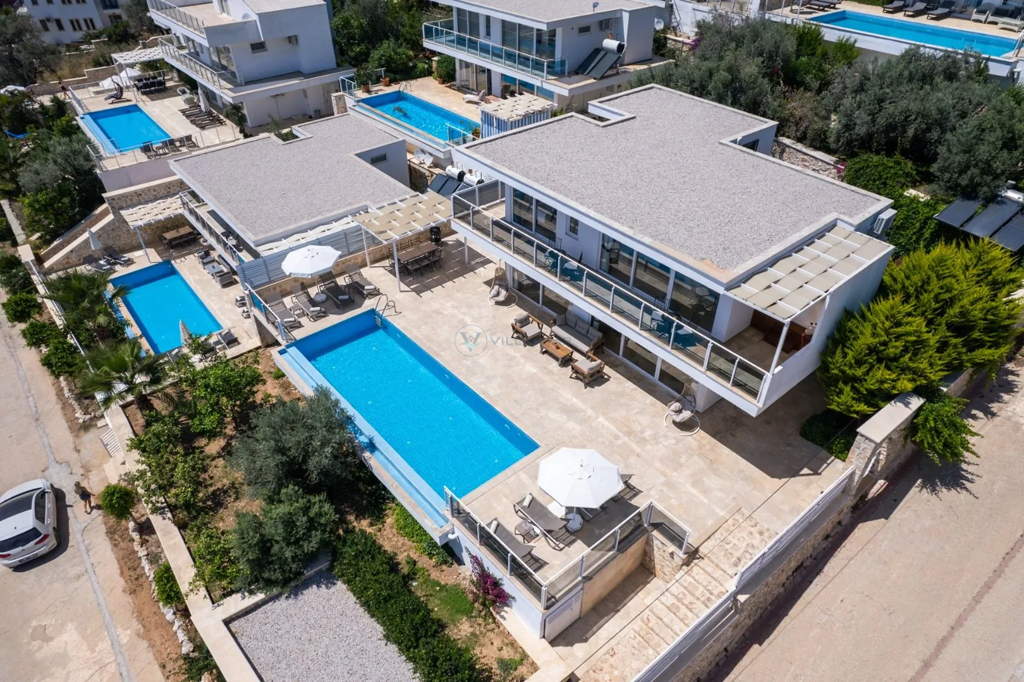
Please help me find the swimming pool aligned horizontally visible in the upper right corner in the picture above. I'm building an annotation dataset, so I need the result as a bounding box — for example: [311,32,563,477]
[817,10,1018,55]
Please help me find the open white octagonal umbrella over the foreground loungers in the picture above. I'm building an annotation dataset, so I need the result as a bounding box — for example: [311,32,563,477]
[536,442,624,530]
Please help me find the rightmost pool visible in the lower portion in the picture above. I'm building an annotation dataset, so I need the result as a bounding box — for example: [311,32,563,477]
[269,309,540,548]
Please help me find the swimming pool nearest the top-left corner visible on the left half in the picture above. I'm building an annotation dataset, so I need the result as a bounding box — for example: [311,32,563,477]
[77,105,175,153]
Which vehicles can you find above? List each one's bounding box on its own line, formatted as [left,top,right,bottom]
[0,476,60,565]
